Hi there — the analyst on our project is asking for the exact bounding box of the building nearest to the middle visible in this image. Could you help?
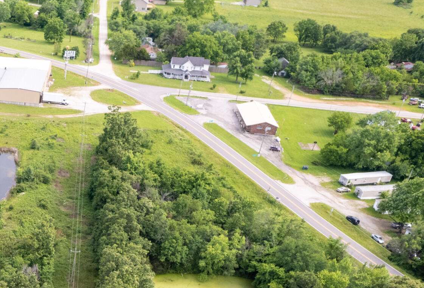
[234,100,279,136]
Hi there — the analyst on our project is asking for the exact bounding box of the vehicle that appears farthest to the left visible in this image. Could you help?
[42,91,72,106]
